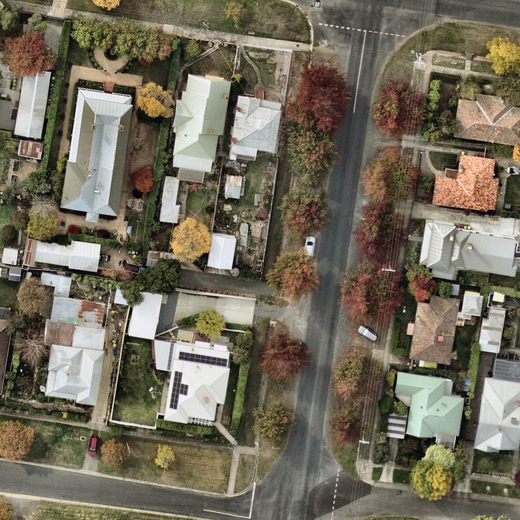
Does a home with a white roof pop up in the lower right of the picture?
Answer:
Yes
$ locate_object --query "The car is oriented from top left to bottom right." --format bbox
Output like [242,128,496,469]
[357,325,378,343]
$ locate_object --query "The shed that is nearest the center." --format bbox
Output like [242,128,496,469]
[208,234,237,270]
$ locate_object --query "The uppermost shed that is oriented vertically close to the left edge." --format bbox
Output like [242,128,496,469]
[13,71,51,139]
